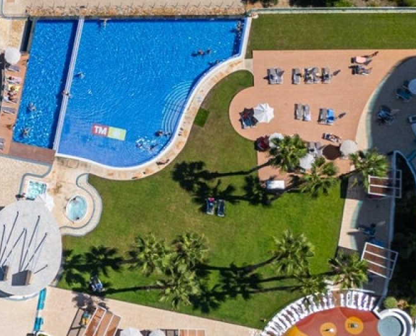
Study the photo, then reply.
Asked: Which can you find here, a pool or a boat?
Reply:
pool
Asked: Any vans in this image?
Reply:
No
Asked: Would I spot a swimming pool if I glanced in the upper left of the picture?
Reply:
Yes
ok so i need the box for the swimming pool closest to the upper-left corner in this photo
[12,21,79,148]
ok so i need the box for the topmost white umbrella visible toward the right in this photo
[253,103,273,123]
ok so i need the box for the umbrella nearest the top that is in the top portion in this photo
[3,48,21,65]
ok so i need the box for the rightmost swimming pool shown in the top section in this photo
[59,21,243,166]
